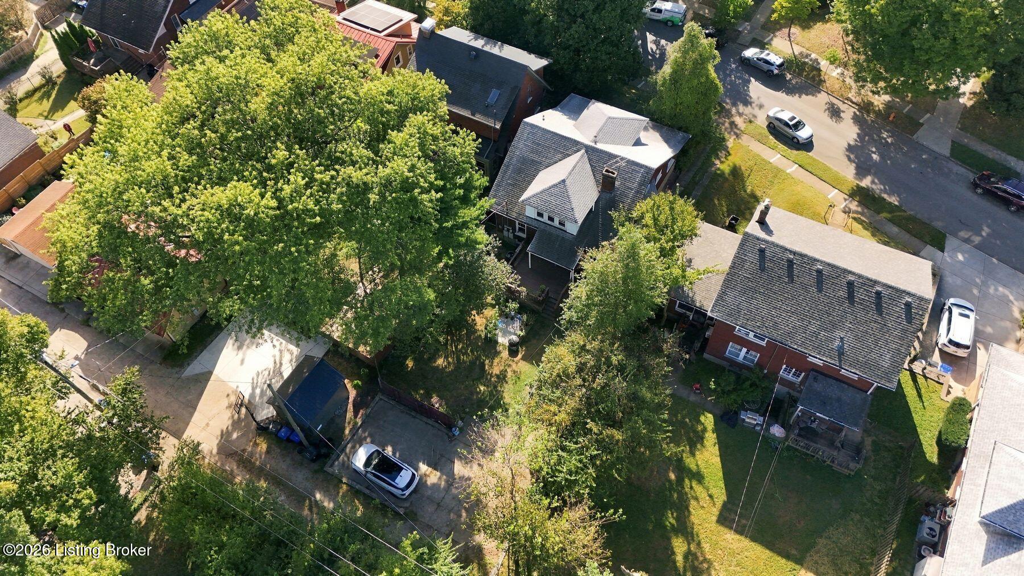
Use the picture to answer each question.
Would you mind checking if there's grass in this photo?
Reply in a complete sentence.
Yes, some grass is visible.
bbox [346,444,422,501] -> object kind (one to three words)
car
